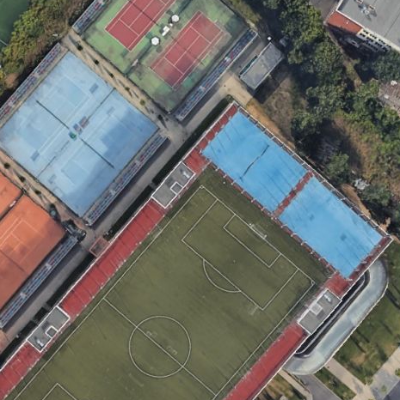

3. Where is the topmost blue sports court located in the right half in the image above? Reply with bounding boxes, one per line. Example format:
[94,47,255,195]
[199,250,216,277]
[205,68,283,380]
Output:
[201,111,307,212]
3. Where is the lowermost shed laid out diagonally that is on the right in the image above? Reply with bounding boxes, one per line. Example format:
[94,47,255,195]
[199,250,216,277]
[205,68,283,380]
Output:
[239,42,284,92]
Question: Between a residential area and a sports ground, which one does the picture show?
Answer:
sports ground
